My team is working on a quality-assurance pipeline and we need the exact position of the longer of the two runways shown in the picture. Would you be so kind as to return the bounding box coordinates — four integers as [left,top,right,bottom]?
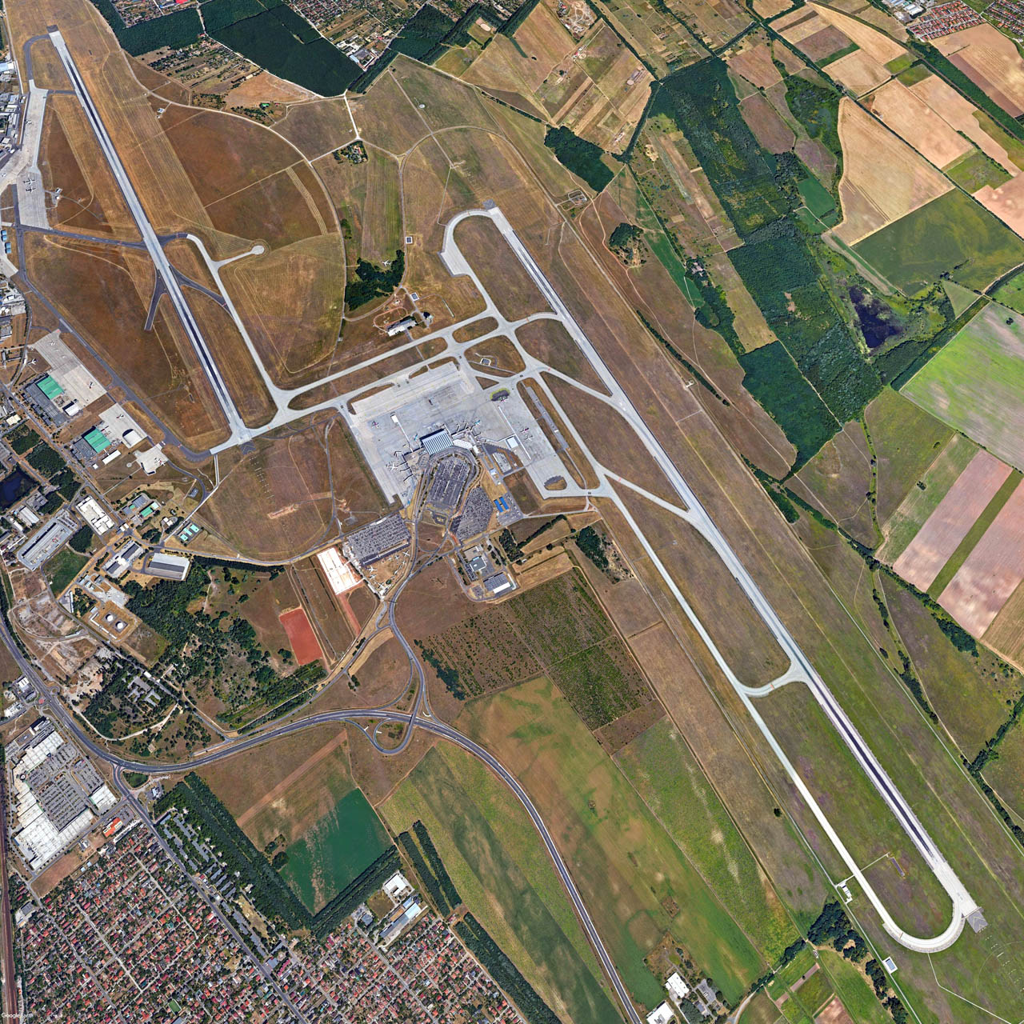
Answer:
[482,199,988,932]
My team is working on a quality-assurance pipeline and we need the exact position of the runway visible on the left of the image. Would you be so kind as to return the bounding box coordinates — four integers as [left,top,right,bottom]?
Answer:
[46,24,255,454]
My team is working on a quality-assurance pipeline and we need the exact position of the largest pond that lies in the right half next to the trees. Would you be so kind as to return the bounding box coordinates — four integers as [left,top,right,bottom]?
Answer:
[849,285,904,349]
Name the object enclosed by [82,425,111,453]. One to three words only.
hangar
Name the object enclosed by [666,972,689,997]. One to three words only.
building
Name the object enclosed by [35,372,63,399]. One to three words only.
hangar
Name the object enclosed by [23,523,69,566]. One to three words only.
shed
